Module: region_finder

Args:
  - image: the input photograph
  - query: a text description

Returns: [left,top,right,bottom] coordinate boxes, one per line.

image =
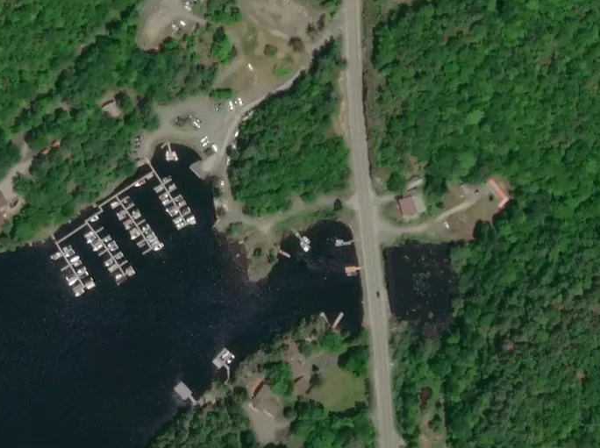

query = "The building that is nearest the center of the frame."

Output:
[398,196,418,222]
